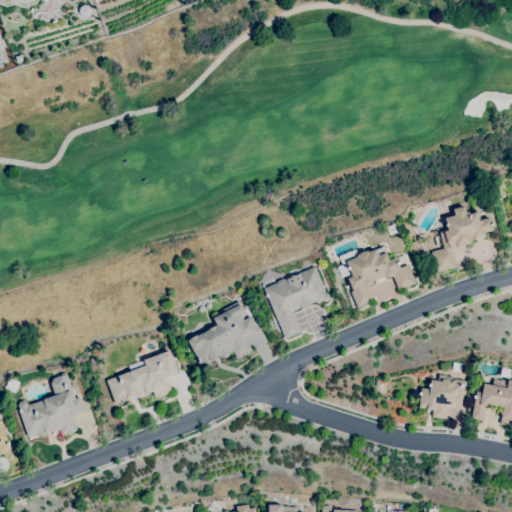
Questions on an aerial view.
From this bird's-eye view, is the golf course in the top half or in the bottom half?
top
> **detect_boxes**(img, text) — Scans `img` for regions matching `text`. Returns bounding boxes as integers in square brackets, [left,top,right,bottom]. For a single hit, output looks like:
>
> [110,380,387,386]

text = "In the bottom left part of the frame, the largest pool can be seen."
[26,385,48,400]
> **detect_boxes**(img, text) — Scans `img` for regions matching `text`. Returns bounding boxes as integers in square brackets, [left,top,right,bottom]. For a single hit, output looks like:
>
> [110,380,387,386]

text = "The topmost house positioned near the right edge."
[432,204,499,274]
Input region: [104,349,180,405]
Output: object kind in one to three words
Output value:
house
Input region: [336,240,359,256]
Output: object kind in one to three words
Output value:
swimming pool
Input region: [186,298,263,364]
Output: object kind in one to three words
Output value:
house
